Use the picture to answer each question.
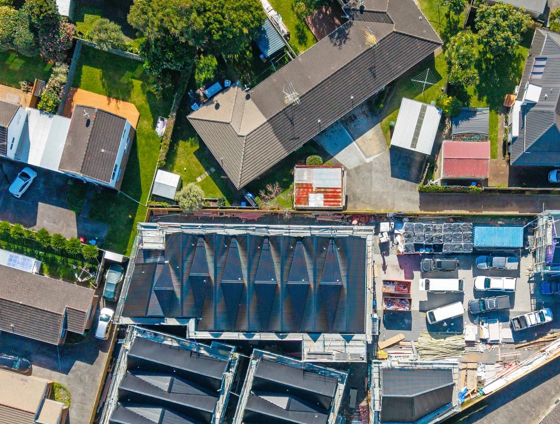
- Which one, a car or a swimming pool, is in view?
car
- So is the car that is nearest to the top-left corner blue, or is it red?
blue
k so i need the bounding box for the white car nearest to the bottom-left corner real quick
[93,306,116,341]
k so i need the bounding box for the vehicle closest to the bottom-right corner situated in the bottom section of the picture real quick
[509,307,555,332]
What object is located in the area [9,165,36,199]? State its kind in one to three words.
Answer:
car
